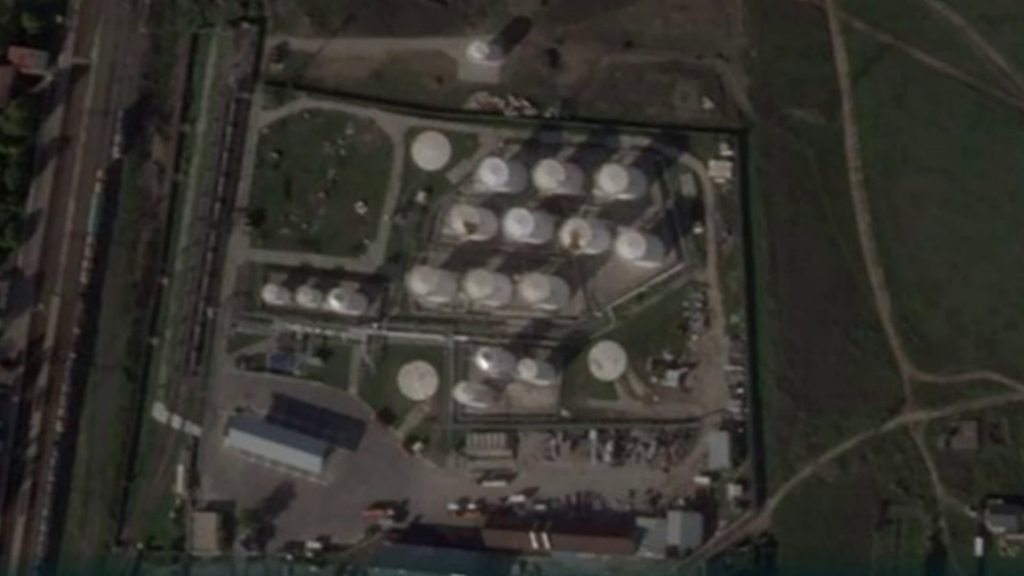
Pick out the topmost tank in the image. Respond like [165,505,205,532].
[466,40,505,69]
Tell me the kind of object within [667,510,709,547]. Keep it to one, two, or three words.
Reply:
building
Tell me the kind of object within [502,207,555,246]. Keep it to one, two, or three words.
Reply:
storage tank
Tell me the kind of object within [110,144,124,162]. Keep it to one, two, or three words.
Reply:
rail car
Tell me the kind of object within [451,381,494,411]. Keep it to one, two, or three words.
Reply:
storage tank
